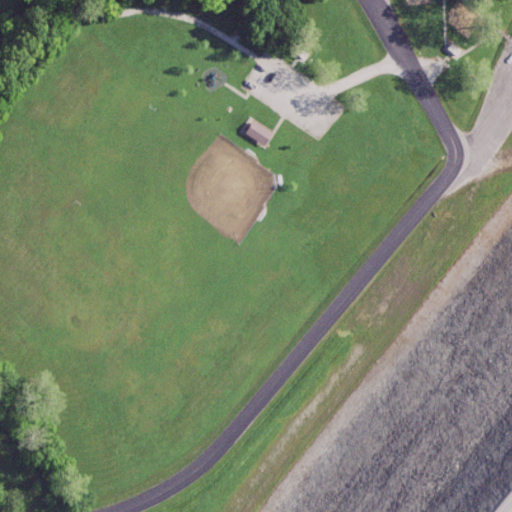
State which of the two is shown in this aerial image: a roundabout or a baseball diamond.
baseball diamond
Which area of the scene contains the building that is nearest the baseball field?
top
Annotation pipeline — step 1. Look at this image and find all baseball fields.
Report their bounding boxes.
[186,132,277,243]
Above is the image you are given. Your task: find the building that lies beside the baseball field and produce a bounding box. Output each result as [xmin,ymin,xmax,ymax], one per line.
[243,118,274,146]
